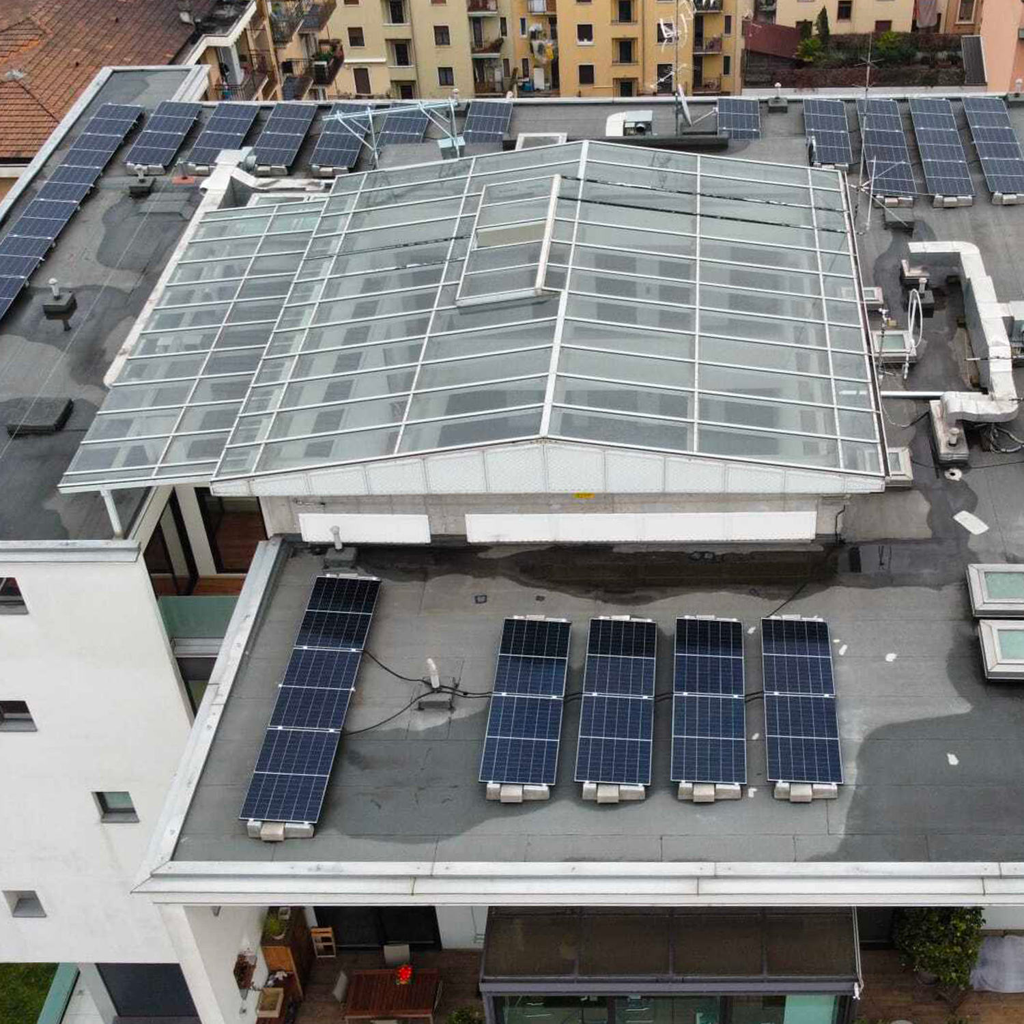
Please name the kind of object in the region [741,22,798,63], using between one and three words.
shed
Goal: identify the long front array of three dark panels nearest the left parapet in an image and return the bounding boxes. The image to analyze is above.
[239,574,382,849]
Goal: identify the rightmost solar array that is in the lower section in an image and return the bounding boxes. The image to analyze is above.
[759,614,847,807]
